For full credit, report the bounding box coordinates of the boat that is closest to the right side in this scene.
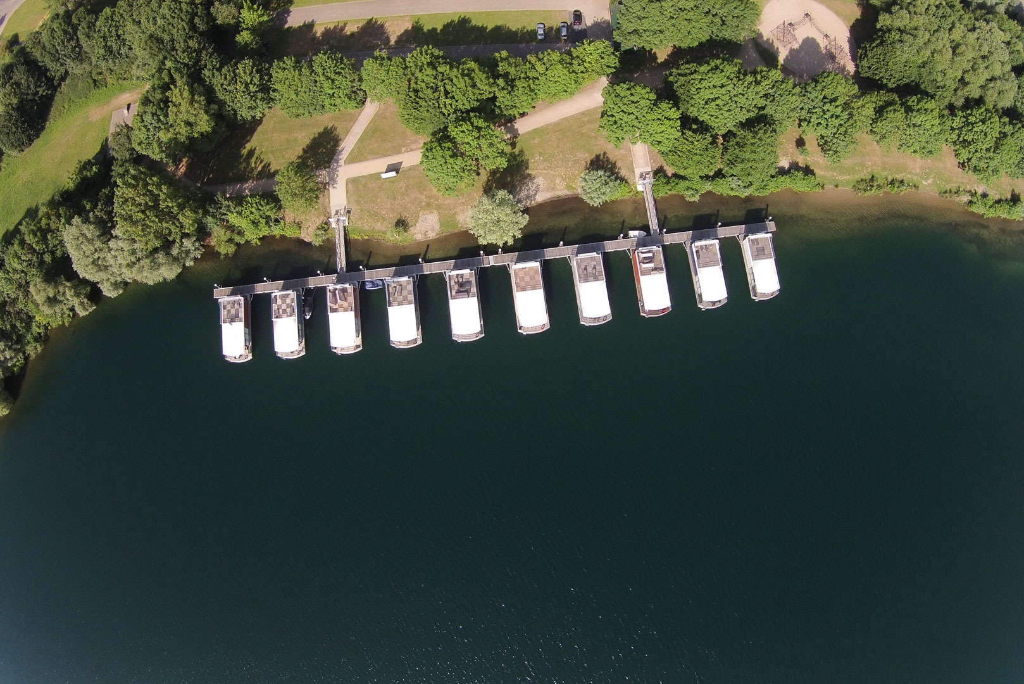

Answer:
[739,233,781,302]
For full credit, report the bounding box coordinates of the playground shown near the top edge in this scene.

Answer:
[759,0,854,81]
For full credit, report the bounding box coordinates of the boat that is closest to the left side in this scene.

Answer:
[217,295,254,364]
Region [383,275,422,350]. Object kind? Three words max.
boat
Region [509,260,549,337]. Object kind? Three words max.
boat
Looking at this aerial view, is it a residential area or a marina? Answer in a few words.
marina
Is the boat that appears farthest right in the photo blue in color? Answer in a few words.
No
